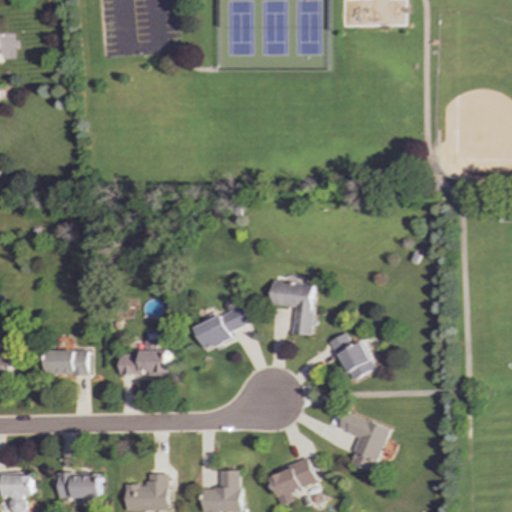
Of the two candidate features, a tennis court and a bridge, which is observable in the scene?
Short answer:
tennis court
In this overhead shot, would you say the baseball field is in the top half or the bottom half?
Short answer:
top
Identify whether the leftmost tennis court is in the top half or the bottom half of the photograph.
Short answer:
top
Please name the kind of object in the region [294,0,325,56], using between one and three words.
tennis court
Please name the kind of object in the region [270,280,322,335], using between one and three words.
house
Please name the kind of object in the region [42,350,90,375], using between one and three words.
house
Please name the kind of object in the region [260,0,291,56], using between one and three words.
tennis court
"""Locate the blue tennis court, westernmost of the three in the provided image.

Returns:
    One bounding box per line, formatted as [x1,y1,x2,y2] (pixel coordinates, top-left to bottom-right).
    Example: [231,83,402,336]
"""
[226,0,256,56]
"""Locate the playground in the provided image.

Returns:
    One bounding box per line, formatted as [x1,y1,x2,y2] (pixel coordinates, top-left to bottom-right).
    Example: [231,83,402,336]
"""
[344,0,408,28]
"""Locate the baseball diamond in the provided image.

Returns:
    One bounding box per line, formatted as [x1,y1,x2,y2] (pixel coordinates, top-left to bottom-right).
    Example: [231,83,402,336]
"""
[432,88,512,178]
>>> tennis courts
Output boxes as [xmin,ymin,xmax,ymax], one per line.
[260,0,291,56]
[226,0,256,56]
[294,0,325,56]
